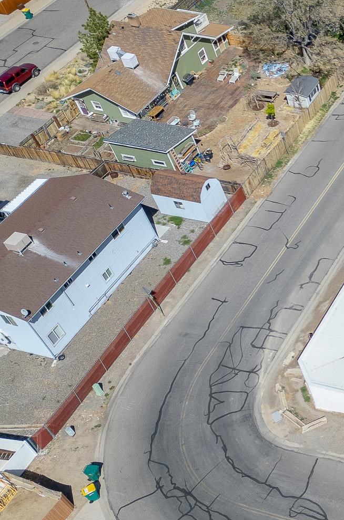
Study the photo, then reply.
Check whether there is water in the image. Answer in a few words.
No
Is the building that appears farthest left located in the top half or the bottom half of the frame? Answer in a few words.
bottom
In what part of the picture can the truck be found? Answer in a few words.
top left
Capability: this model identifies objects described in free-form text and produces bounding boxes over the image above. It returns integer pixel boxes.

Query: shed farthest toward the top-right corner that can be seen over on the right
[281,75,324,108]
